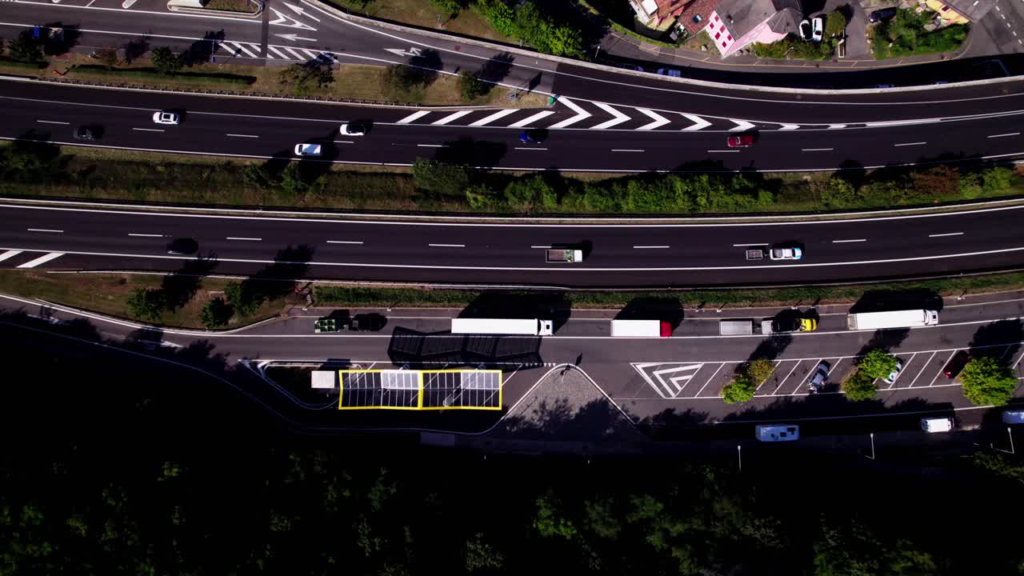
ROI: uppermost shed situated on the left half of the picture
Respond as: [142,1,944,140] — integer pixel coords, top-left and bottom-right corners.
[312,370,338,388]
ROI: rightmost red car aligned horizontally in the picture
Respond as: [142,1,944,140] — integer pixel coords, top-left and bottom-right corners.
[727,134,754,147]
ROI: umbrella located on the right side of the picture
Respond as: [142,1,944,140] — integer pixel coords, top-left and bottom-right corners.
[935,11,949,24]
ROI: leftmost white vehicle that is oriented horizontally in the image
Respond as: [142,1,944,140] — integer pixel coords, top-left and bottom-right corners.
[153,111,180,125]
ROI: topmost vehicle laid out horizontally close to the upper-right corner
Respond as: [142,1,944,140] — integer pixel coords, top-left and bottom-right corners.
[868,7,896,23]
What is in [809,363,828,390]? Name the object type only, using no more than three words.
car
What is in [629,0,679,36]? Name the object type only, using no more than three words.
house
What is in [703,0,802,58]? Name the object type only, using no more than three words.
house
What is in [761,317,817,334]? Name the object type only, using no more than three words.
vehicle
